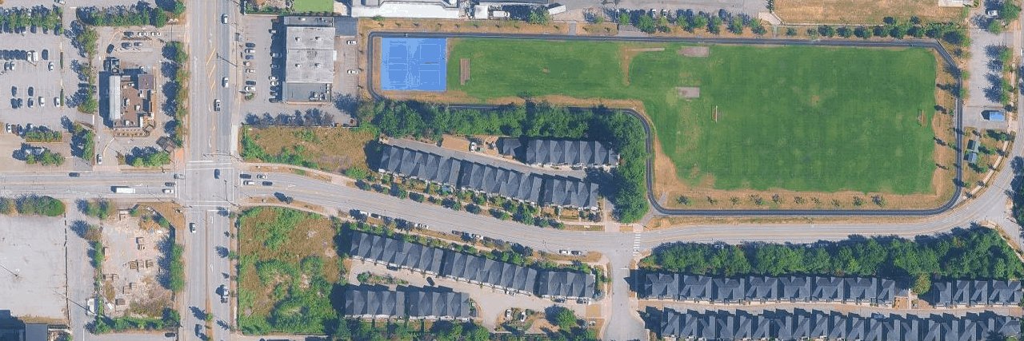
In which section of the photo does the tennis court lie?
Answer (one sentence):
Look in the top portion of the view to spot the tennis court.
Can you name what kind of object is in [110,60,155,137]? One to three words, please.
building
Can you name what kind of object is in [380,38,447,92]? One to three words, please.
tennis court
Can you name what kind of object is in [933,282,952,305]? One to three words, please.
house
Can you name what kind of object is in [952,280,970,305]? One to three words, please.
house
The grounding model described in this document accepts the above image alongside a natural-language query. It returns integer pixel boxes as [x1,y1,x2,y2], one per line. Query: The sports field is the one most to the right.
[373,37,958,210]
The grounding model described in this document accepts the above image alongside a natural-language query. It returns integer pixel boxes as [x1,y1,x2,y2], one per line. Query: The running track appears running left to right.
[366,31,964,216]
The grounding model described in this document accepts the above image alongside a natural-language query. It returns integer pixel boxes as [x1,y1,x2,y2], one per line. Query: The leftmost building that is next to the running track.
[283,17,338,104]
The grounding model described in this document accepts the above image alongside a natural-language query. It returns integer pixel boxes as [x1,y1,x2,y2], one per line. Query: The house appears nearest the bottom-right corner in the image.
[995,317,1022,338]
